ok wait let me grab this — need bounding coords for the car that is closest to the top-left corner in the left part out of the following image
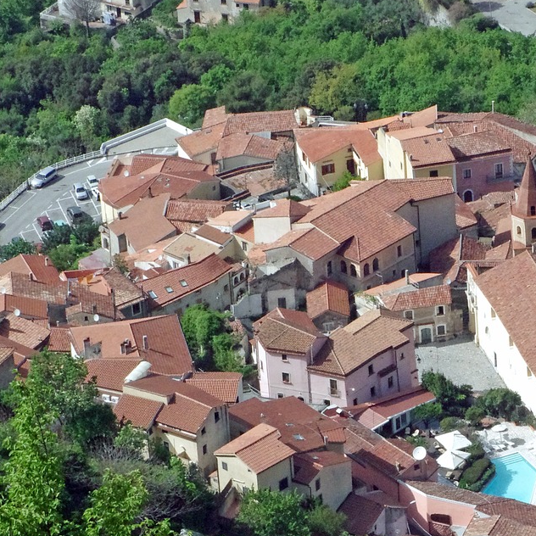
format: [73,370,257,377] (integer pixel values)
[28,164,61,187]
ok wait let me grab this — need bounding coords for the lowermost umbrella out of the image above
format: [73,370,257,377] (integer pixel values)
[433,450,472,480]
